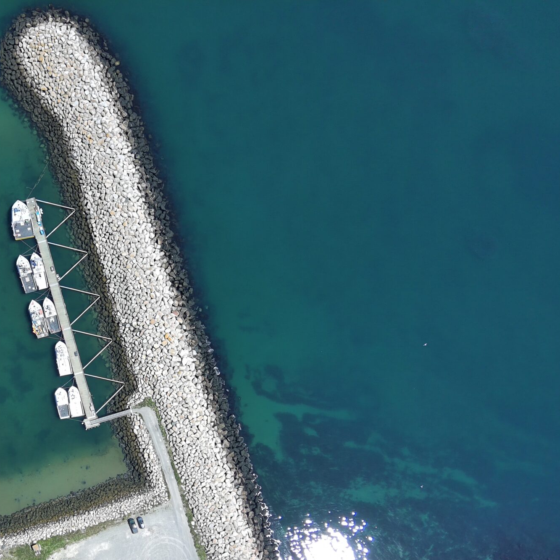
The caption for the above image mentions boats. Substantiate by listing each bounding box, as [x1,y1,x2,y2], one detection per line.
[30,299,48,338]
[32,252,49,290]
[67,386,84,417]
[44,297,61,334]
[18,254,37,293]
[55,340,72,376]
[55,387,71,419]
[13,200,33,240]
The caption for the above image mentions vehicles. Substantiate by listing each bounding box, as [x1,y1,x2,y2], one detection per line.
[127,517,139,535]
[137,515,145,531]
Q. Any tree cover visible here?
No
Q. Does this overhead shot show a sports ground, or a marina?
marina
